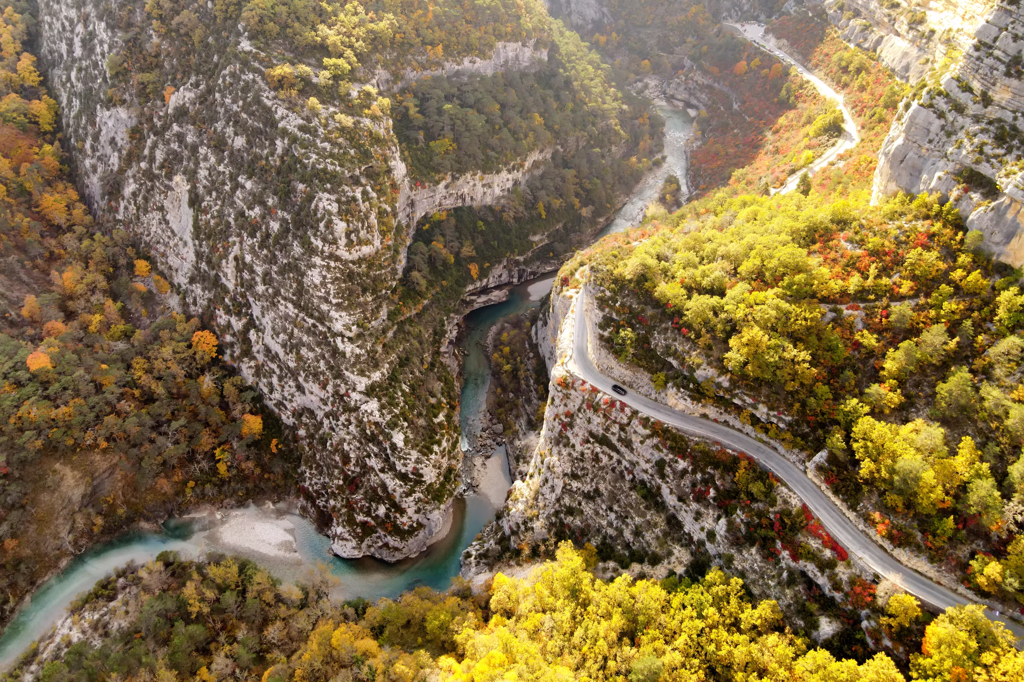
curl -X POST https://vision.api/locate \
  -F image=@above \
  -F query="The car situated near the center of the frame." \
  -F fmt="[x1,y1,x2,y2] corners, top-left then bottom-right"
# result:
[611,384,628,396]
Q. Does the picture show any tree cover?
Yes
